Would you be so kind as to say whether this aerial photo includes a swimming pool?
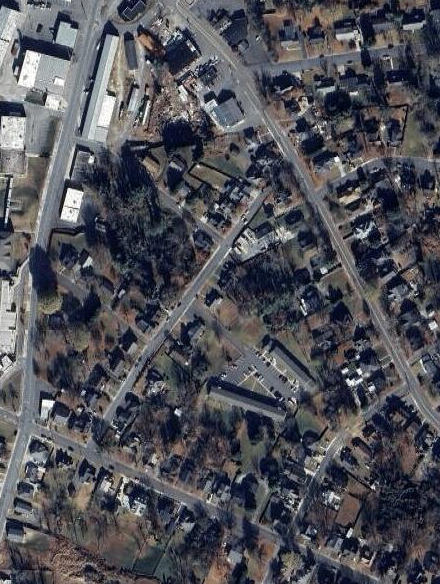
No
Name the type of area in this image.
residential area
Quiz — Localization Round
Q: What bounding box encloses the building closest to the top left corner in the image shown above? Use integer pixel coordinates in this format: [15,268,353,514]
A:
[0,7,24,41]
